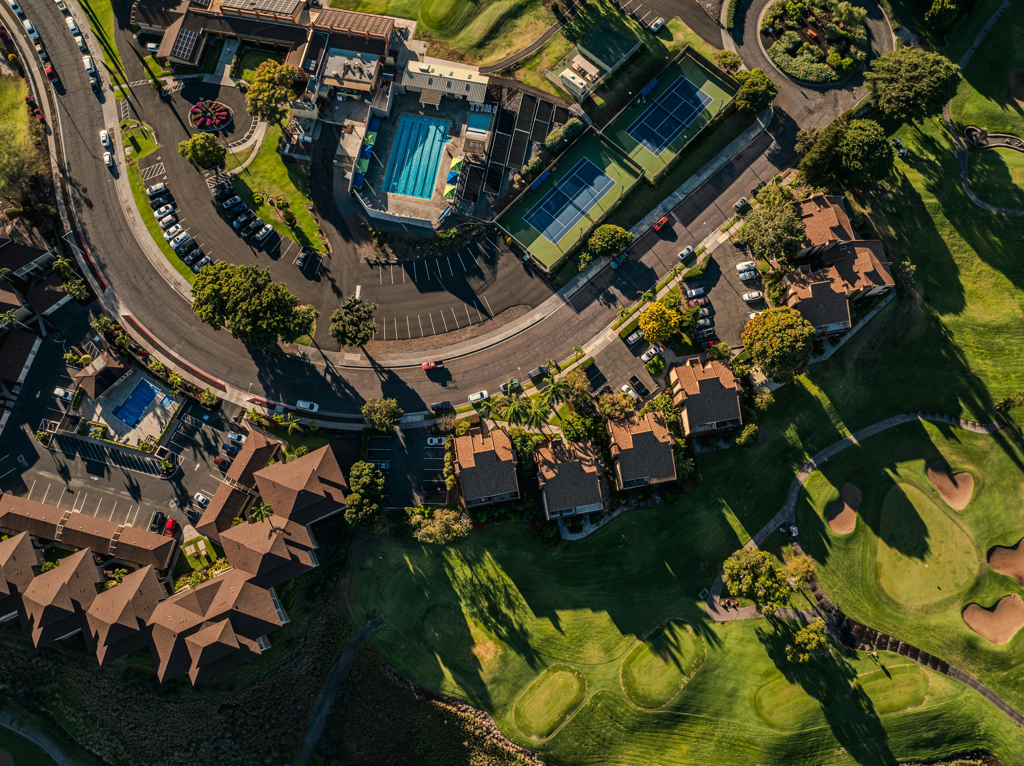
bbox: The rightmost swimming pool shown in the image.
[464,111,492,139]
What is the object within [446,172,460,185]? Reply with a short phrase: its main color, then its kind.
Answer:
blue umbrella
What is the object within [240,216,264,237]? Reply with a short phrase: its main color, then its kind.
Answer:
black truck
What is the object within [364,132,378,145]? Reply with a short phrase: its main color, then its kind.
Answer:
green umbrella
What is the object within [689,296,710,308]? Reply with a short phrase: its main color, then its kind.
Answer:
red vehicle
